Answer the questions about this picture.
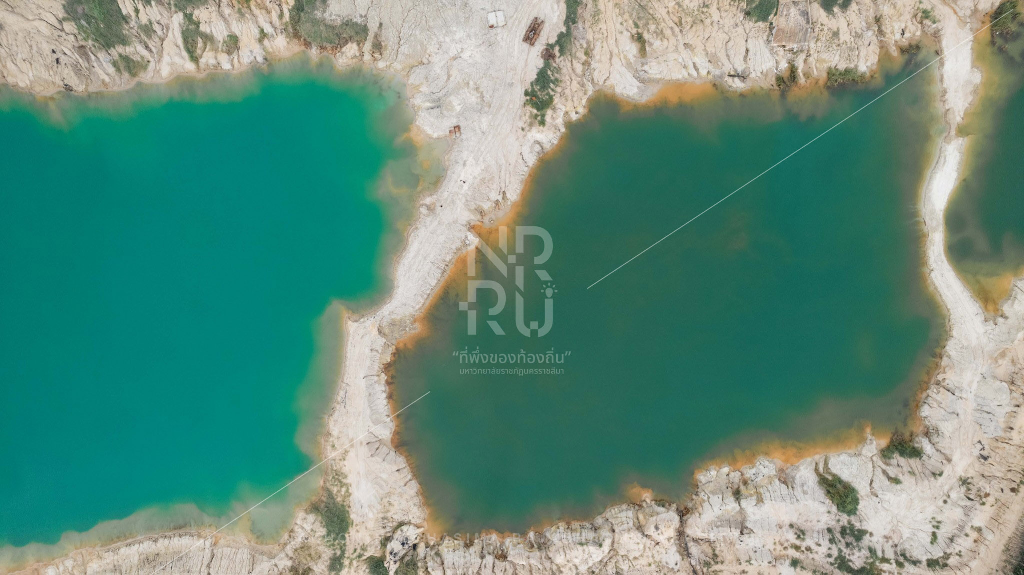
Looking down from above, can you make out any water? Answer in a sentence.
Yes, water can be seen from above here.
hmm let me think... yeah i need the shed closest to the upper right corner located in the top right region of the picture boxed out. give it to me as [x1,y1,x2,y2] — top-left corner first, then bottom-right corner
[772,0,812,52]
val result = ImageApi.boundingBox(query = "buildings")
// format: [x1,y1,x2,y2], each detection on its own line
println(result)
[772,0,812,52]
[487,9,507,28]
